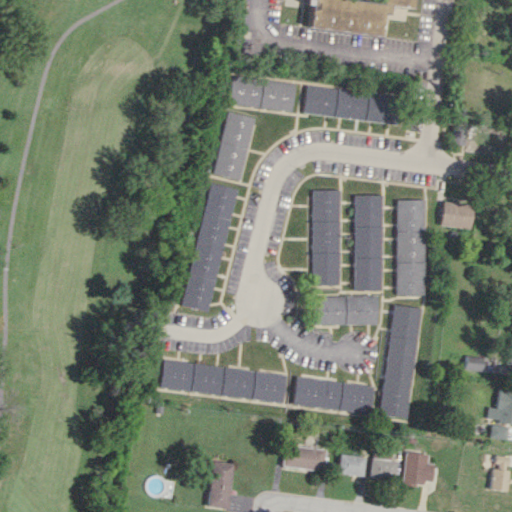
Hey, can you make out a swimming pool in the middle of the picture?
No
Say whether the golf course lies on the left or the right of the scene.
left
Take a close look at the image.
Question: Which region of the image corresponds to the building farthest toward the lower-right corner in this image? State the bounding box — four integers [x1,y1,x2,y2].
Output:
[490,468,510,494]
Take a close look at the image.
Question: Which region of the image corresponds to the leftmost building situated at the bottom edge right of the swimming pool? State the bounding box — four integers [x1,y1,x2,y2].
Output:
[206,460,234,508]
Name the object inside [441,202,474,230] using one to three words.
house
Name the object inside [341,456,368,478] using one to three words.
house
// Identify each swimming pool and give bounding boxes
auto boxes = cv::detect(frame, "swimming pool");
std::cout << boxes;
[144,476,176,500]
